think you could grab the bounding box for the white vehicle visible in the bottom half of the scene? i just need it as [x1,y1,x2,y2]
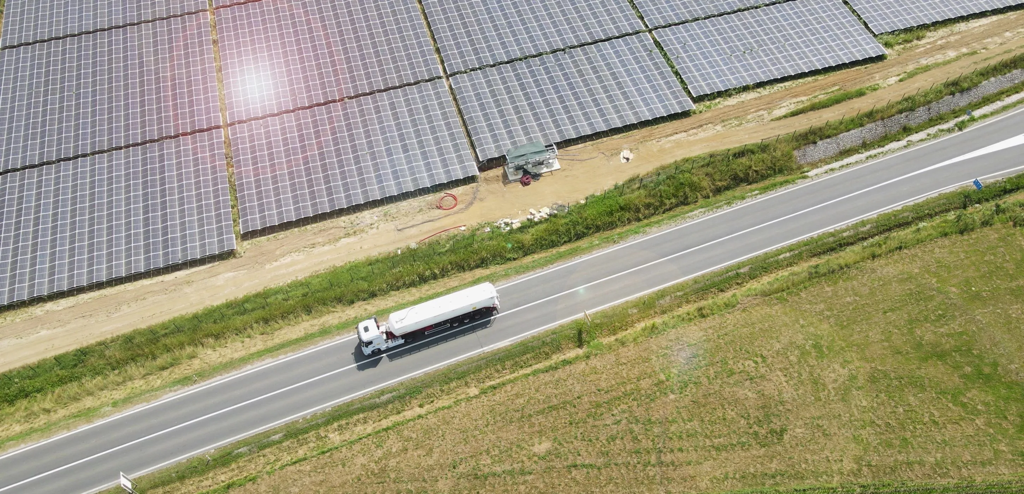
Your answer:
[354,282,499,355]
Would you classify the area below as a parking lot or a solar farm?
solar farm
